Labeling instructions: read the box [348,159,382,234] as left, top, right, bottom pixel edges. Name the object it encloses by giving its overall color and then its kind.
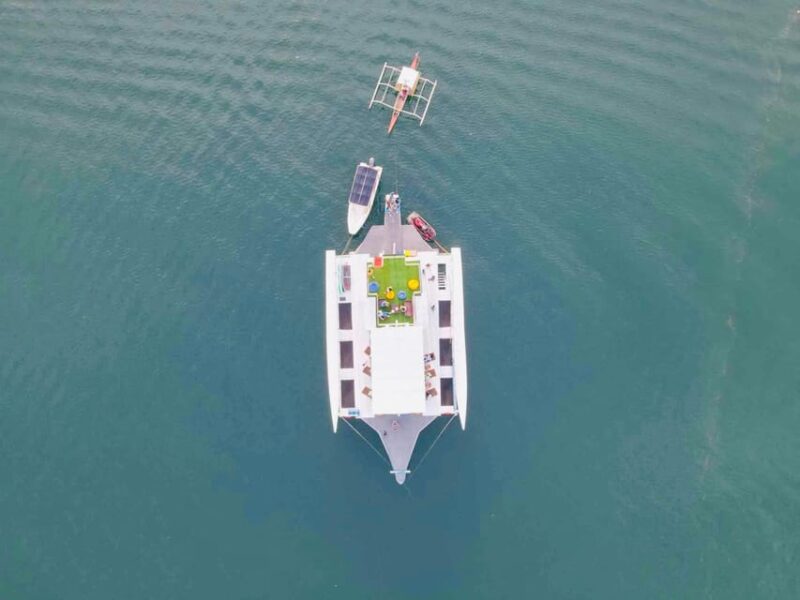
white boat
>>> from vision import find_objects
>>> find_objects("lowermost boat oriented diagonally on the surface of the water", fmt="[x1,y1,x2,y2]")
[407,211,434,241]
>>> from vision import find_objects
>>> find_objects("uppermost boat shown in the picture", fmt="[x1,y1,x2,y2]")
[370,51,436,133]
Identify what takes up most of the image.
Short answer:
water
